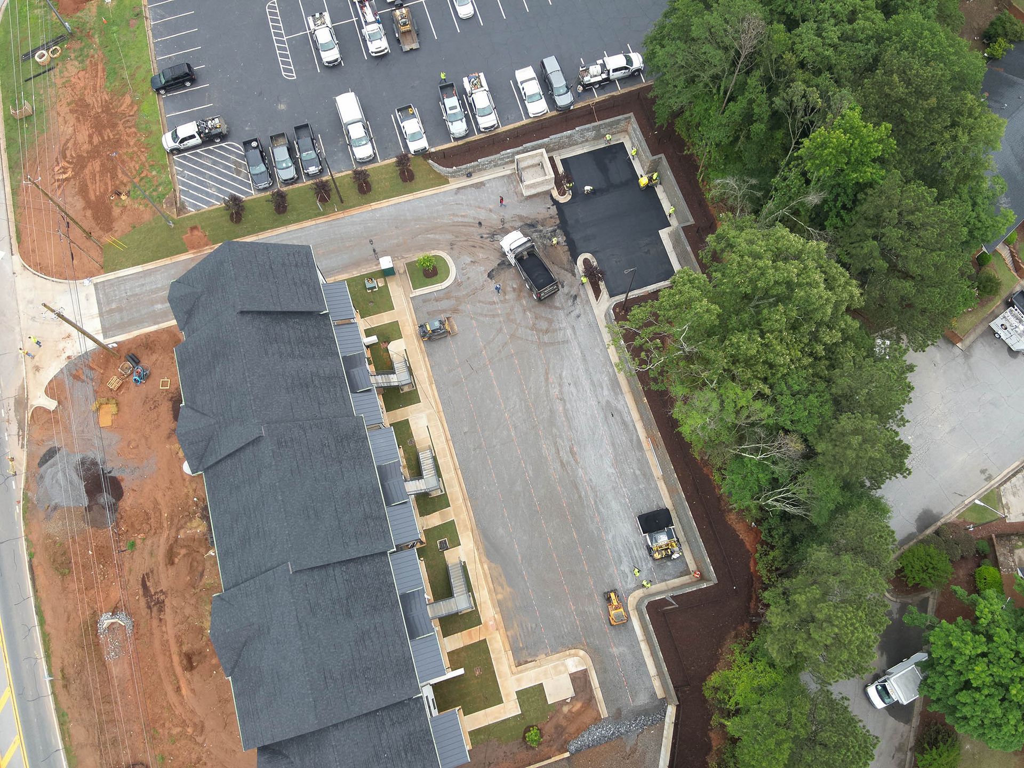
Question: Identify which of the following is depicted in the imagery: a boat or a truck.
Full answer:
The image shows a truck.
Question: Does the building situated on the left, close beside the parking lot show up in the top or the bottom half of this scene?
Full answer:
The bottom half of the photo is where the building situated on the left, close beside the parking lot is.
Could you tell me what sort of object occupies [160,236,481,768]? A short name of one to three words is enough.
building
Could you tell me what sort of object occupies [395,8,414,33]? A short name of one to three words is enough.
work vehicle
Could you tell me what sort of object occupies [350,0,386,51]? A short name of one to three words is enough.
truck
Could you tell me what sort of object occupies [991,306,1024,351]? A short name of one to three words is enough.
trailer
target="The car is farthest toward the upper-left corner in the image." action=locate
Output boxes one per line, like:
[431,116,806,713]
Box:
[150,64,199,94]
